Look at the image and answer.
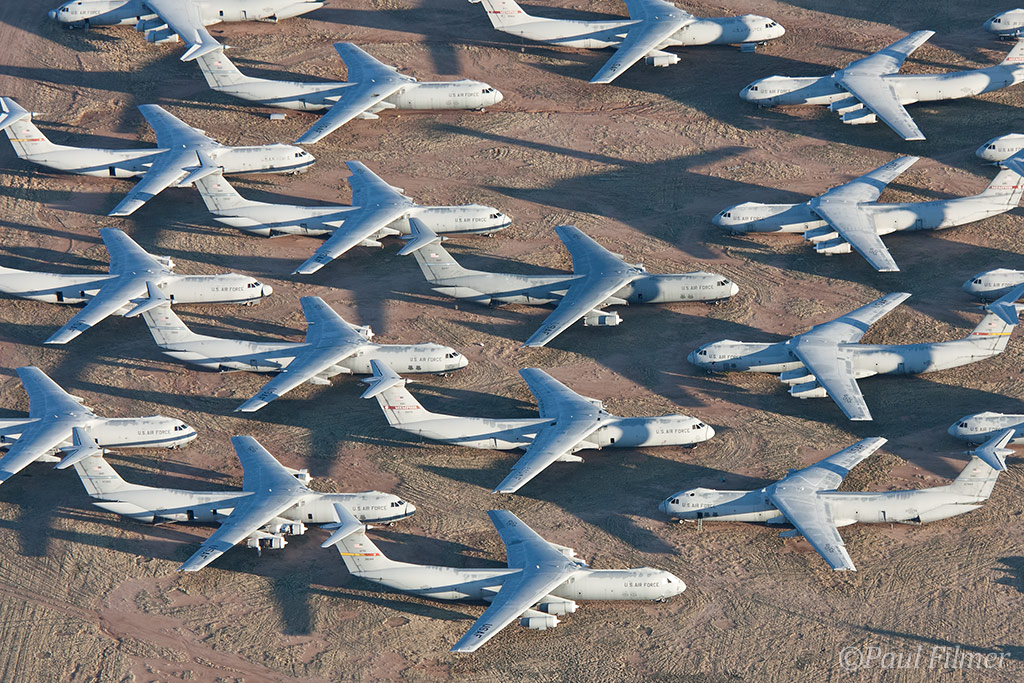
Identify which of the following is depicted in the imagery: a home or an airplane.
airplane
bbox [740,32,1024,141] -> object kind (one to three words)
airplane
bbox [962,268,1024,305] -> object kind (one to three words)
airplane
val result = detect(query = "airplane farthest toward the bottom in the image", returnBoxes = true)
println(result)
[320,504,688,652]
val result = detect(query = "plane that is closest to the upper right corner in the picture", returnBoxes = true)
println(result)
[984,6,1024,40]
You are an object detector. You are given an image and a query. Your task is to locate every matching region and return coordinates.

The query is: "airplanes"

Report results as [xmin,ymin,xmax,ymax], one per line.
[470,0,785,85]
[688,287,1024,422]
[182,29,503,146]
[179,150,513,276]
[660,430,1019,572]
[962,268,1024,305]
[712,151,1024,273]
[948,412,1024,450]
[0,367,197,486]
[49,0,330,55]
[124,281,469,413]
[0,96,316,217]
[397,218,739,349]
[0,229,272,346]
[320,504,688,652]
[984,6,1024,40]
[359,360,715,495]
[740,32,1024,141]
[976,133,1024,168]
[56,428,416,572]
